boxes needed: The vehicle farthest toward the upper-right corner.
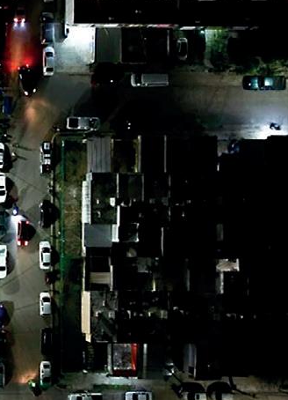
[242,73,288,92]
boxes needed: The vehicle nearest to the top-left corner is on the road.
[12,0,27,25]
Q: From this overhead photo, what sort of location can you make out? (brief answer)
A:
residential area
